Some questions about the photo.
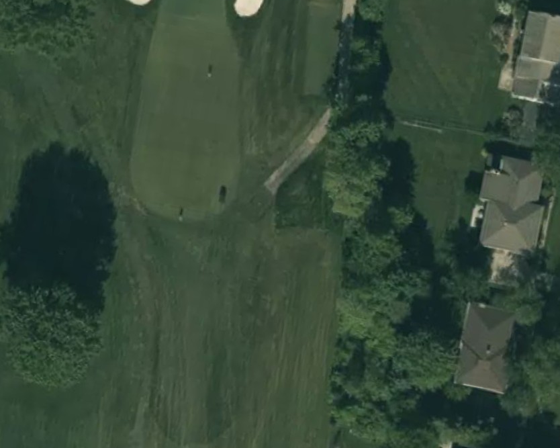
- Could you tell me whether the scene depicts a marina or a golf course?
golf course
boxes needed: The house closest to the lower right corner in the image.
[454,301,515,394]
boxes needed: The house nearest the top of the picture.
[509,9,560,106]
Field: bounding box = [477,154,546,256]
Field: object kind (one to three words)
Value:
house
